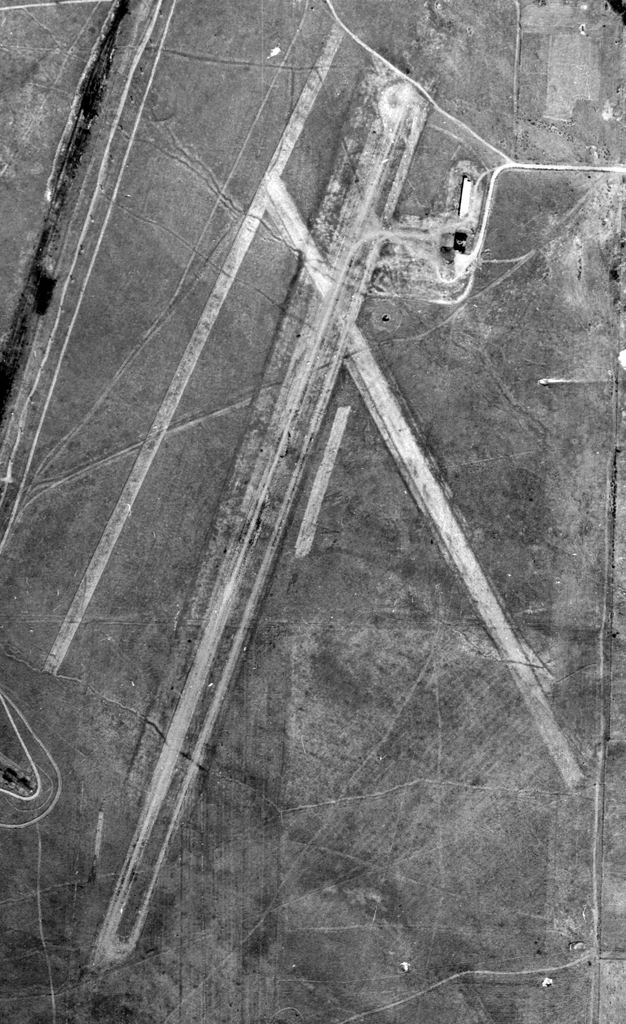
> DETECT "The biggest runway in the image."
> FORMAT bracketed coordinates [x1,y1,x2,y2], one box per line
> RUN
[93,79,428,963]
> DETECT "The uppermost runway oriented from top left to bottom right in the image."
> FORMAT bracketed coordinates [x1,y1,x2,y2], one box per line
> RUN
[260,173,334,293]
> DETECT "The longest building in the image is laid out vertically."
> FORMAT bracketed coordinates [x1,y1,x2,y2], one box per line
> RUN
[460,176,472,215]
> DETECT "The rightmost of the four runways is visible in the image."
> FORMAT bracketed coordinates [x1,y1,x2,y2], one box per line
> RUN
[349,324,587,789]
